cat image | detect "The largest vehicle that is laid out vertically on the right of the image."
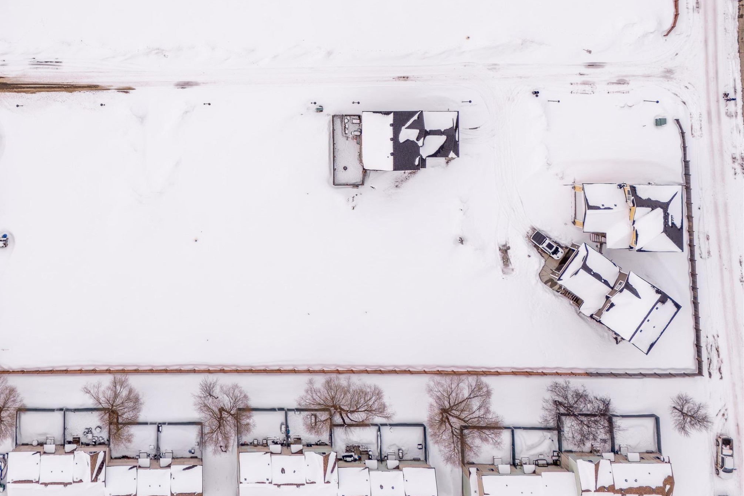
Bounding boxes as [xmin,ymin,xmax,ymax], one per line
[716,436,734,479]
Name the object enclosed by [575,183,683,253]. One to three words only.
house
